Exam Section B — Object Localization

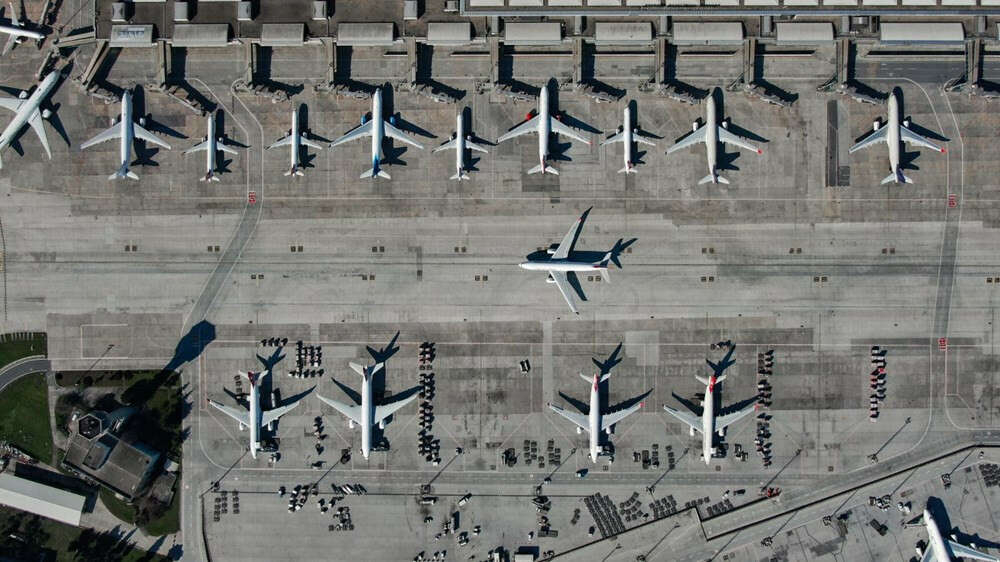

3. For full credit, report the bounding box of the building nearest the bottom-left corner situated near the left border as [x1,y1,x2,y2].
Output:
[0,466,93,527]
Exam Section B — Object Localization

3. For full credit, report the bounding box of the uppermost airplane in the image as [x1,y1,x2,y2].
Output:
[0,1,45,57]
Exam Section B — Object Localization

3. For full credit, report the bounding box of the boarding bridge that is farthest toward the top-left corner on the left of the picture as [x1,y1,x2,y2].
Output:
[33,16,97,80]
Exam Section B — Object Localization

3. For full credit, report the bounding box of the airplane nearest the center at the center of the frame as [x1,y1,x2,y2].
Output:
[519,218,612,315]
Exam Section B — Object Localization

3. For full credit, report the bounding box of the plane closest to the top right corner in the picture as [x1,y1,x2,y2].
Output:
[850,92,946,184]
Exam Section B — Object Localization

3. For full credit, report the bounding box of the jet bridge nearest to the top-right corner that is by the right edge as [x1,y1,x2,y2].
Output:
[955,43,1000,104]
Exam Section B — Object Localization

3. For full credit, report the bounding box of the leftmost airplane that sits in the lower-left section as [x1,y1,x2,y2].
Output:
[204,375,298,458]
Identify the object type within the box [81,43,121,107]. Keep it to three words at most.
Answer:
jet bridge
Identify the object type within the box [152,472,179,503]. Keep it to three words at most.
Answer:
house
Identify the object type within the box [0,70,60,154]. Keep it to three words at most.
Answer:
airplane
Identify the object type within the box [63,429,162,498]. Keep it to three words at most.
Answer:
building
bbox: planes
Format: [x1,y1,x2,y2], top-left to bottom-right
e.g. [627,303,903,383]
[204,375,298,458]
[600,107,656,174]
[0,70,60,154]
[76,89,169,179]
[496,85,591,174]
[264,109,322,176]
[180,114,236,181]
[850,92,946,184]
[665,95,762,184]
[0,1,45,57]
[312,364,420,459]
[519,218,612,315]
[663,379,759,464]
[327,88,423,179]
[547,378,643,462]
[918,508,1000,562]
[430,113,488,180]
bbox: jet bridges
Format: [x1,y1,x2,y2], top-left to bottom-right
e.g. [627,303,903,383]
[955,43,1000,104]
[244,44,291,107]
[482,43,540,102]
[33,16,97,80]
[645,43,707,108]
[565,43,622,107]
[733,43,799,108]
[327,43,373,105]
[81,43,121,107]
[159,44,210,117]
[824,43,890,108]
[408,43,458,108]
